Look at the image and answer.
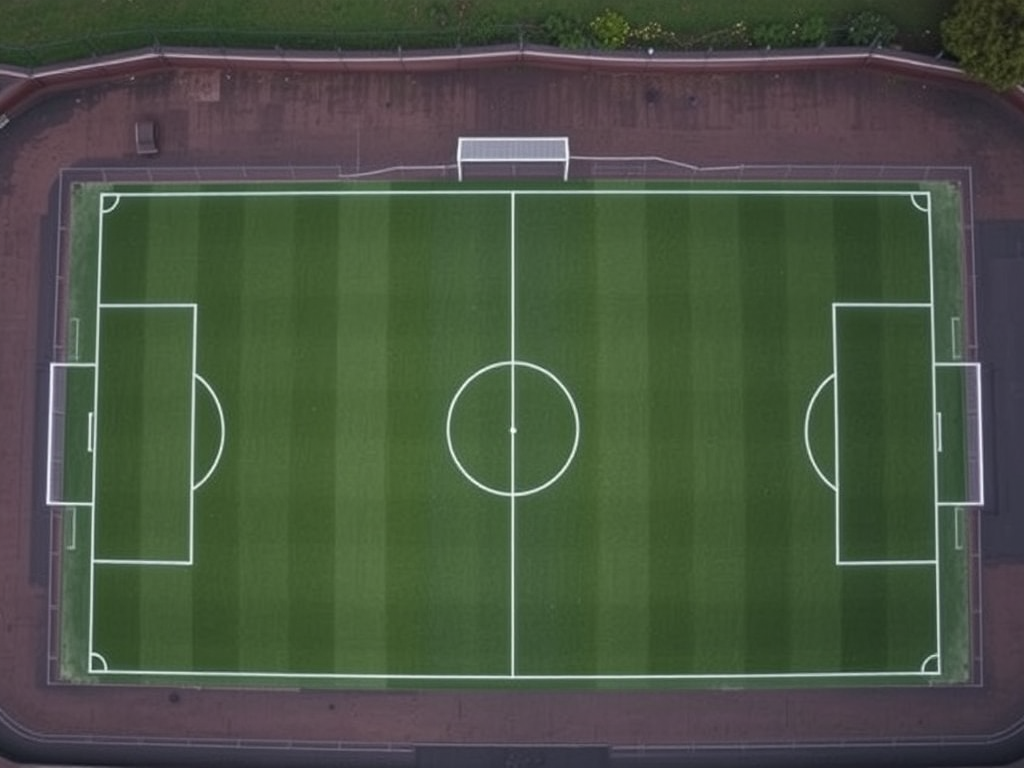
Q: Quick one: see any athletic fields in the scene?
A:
Yes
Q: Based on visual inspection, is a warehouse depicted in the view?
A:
No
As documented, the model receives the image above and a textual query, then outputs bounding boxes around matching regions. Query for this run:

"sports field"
[57,177,974,692]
